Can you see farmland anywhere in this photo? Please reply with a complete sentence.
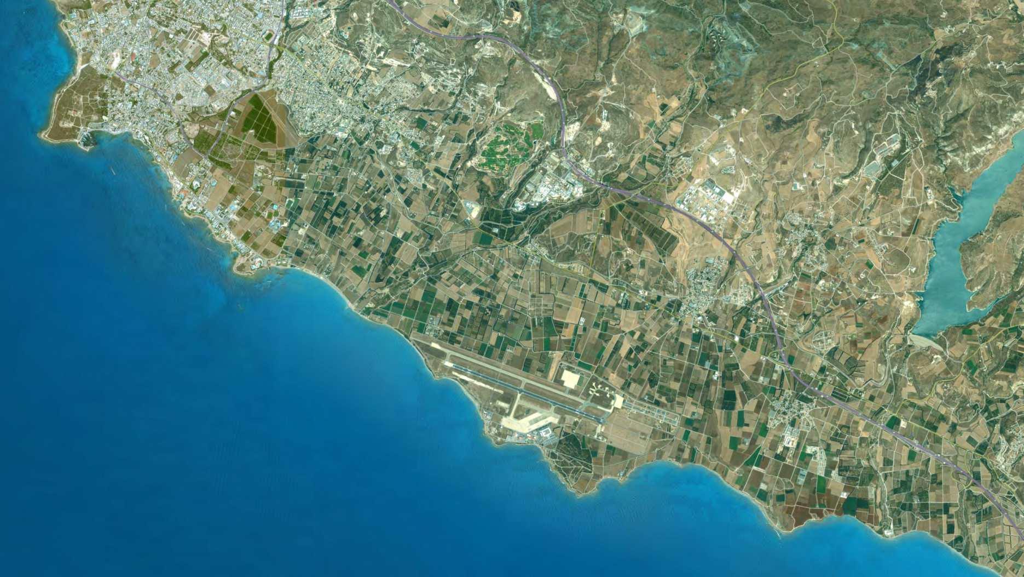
Yes, farmland shows up in the scene.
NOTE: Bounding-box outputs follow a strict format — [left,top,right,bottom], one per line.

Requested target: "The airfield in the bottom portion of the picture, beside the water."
[408,332,628,434]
